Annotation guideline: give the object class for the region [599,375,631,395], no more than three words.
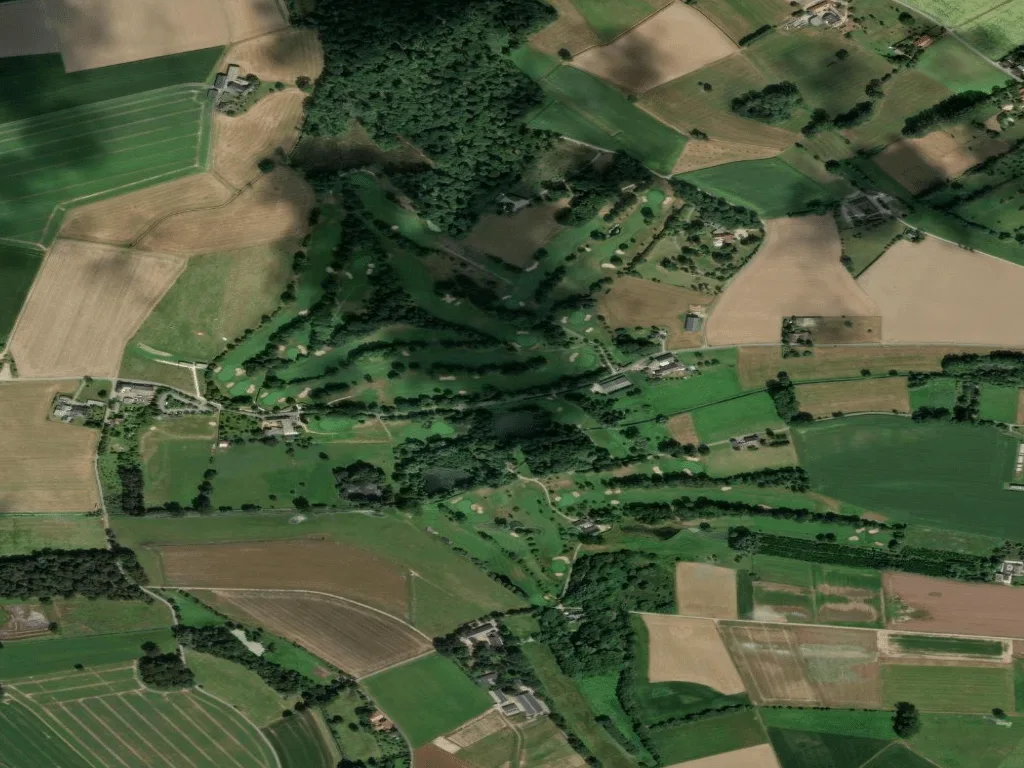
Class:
barn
